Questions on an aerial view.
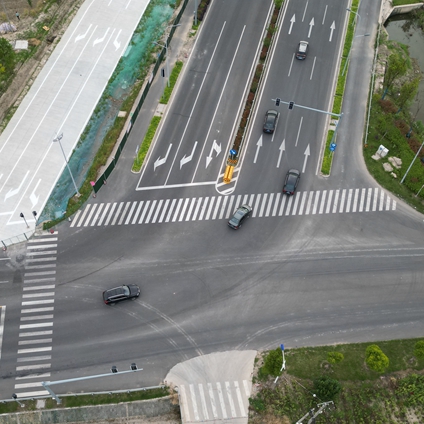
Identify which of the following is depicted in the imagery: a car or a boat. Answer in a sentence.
Visible in the photo is a car.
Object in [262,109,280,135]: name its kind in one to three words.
car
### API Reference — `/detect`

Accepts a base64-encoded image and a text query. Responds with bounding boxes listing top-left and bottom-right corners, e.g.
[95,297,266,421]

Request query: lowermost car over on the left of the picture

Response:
[102,284,140,307]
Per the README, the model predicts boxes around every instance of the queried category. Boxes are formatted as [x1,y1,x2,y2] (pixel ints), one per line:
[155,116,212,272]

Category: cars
[295,41,310,61]
[102,284,140,307]
[282,168,301,197]
[262,109,280,135]
[225,203,254,232]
